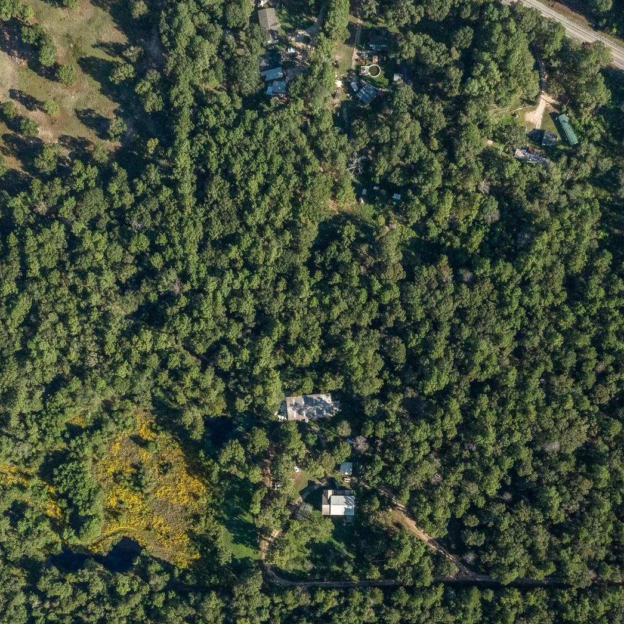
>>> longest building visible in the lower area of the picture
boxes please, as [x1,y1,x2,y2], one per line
[286,393,338,420]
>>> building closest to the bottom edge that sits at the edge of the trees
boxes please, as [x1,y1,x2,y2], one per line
[321,489,354,515]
